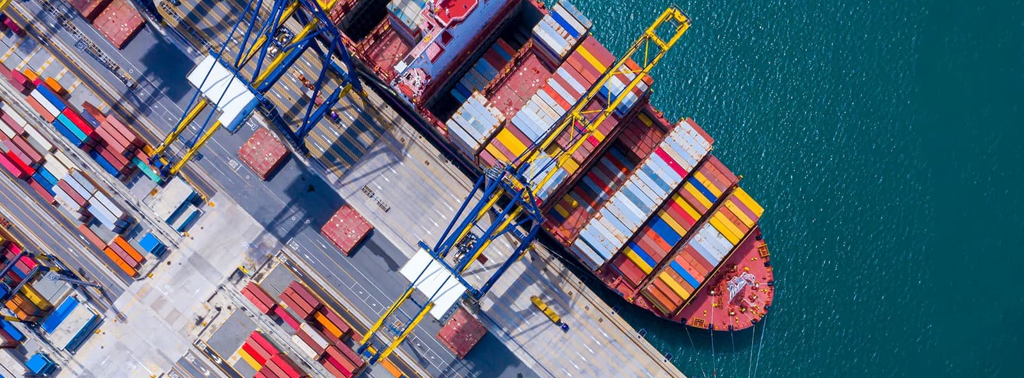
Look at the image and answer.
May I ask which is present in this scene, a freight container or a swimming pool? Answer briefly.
freight container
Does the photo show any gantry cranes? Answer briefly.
Yes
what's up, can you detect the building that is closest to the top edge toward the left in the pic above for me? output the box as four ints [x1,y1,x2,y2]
[148,177,200,234]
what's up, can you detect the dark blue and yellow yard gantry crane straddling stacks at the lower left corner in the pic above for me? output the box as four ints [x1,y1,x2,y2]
[0,250,71,332]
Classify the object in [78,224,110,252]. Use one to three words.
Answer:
shipping container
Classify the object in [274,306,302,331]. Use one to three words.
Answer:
shipping container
